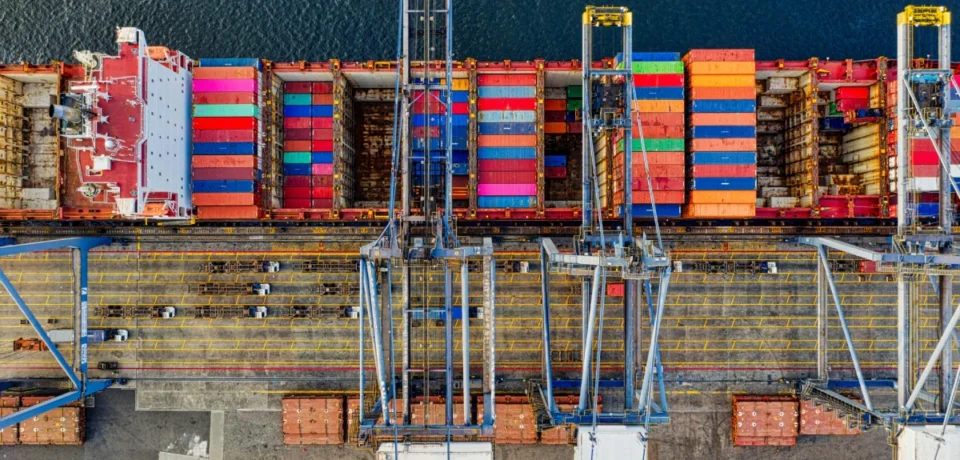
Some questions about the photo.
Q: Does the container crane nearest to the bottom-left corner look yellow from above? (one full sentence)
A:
No, from above the container crane nearest to the bottom-left corner looks blue.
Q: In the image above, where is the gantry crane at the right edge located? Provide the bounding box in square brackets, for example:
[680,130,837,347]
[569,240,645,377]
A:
[782,6,960,460]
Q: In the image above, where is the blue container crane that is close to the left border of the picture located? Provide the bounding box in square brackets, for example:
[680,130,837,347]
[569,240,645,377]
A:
[0,234,128,433]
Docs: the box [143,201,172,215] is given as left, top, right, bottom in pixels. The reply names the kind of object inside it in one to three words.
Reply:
boat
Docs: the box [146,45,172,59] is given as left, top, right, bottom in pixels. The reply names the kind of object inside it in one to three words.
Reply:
boat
